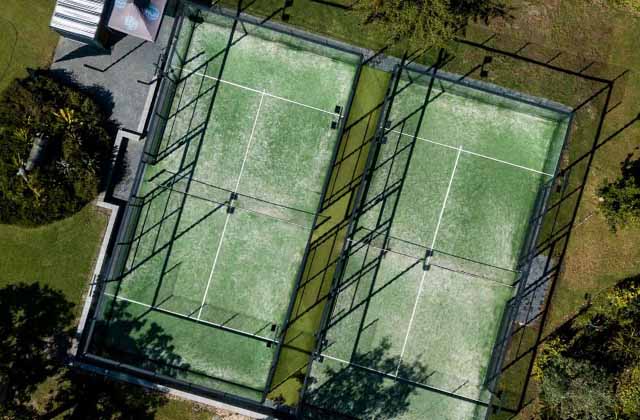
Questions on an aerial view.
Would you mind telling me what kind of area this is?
sports ground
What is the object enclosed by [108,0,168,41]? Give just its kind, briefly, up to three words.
umbrella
